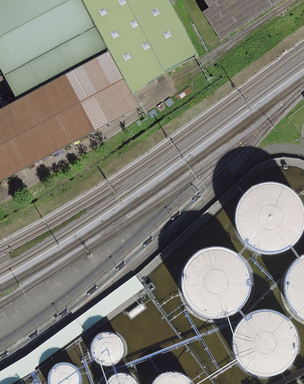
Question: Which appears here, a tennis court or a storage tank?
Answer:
storage tank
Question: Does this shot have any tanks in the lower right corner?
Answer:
Yes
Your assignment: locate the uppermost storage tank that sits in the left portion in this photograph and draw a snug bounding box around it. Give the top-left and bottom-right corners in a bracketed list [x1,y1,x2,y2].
[89,330,128,368]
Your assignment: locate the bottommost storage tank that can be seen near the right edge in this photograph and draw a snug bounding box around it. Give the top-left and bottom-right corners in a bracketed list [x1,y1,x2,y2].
[232,308,304,380]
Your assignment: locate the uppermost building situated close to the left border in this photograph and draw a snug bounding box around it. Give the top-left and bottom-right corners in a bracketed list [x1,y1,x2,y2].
[0,0,108,98]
